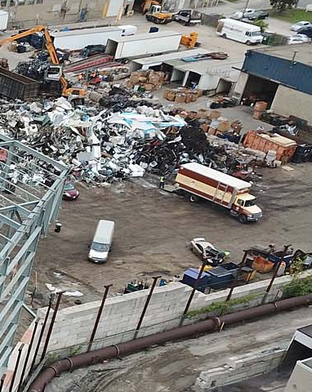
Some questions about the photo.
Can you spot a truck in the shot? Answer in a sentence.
Yes, a truck appears in the view.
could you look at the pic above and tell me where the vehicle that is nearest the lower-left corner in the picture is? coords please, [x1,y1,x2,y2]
[88,221,114,259]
